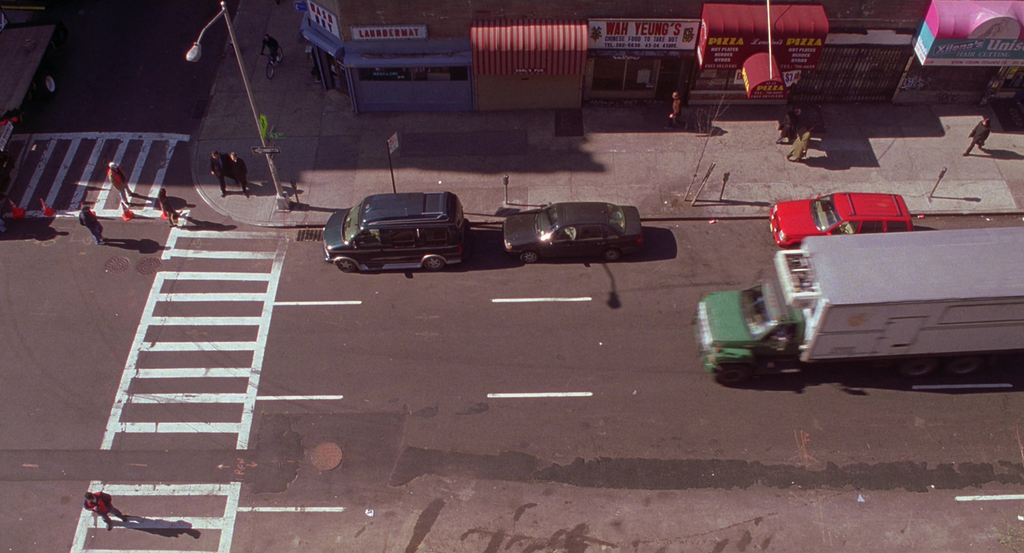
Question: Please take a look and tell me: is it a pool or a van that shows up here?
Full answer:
The one in the frame is a van.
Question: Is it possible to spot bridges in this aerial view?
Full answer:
No, no bridge is visible in the view.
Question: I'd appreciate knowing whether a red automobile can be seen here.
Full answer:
Yes, the picture does show a red automobile.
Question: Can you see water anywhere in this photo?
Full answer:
No, there's no water in this view.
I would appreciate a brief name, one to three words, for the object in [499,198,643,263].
car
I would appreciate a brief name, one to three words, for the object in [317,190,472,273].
van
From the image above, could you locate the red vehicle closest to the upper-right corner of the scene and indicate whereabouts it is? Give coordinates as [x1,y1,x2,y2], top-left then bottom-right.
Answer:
[764,182,918,254]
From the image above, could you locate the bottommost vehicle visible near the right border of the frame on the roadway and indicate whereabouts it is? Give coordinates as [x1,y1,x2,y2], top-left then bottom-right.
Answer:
[696,225,1024,382]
